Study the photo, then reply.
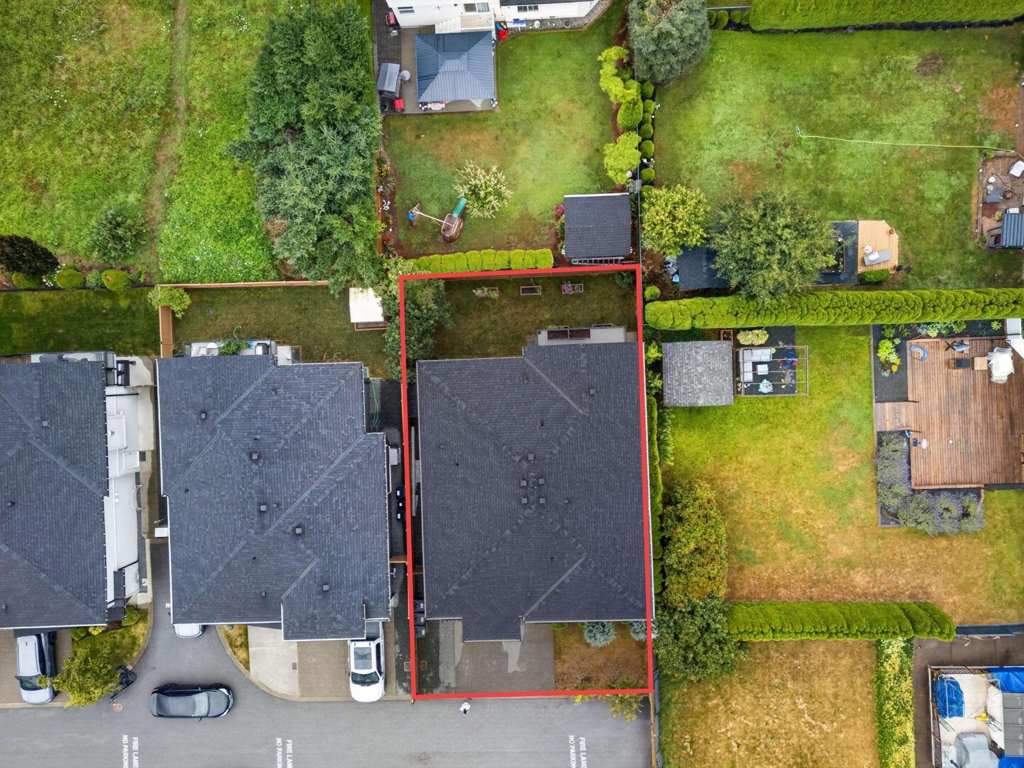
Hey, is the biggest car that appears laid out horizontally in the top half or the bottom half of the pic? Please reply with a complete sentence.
The bottom half of the photo is where the biggest car that appears laid out horizontally is.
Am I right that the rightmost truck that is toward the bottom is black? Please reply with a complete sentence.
No, the rightmost truck that is toward the bottom is white.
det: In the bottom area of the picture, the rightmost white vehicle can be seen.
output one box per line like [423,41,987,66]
[345,621,386,700]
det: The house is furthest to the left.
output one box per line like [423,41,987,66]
[0,362,146,630]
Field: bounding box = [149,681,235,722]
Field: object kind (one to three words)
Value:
car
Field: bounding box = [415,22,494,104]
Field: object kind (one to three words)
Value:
gazebo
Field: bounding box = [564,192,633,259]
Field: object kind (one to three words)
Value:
shed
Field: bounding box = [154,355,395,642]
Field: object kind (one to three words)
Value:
house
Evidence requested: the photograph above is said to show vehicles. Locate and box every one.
[345,621,386,700]
[173,625,206,639]
[12,627,58,706]
[149,681,235,722]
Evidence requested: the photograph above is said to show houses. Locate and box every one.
[390,0,595,33]
[0,362,146,630]
[154,355,395,642]
[415,342,651,642]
